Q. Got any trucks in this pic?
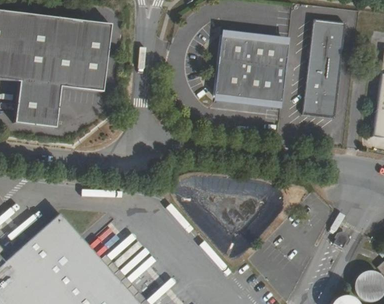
Yes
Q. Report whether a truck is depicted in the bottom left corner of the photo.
Yes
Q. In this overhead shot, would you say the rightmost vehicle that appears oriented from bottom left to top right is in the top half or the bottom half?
bottom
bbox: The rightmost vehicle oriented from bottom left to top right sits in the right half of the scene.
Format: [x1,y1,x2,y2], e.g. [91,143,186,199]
[326,213,346,236]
